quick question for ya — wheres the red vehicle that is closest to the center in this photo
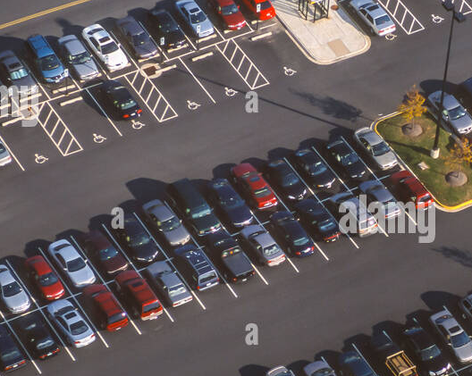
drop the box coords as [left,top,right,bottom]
[234,166,276,210]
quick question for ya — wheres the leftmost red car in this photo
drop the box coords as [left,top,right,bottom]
[20,252,65,302]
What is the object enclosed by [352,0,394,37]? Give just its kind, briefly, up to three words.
car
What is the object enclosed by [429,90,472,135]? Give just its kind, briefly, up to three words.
car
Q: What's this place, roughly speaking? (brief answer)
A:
parking lot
